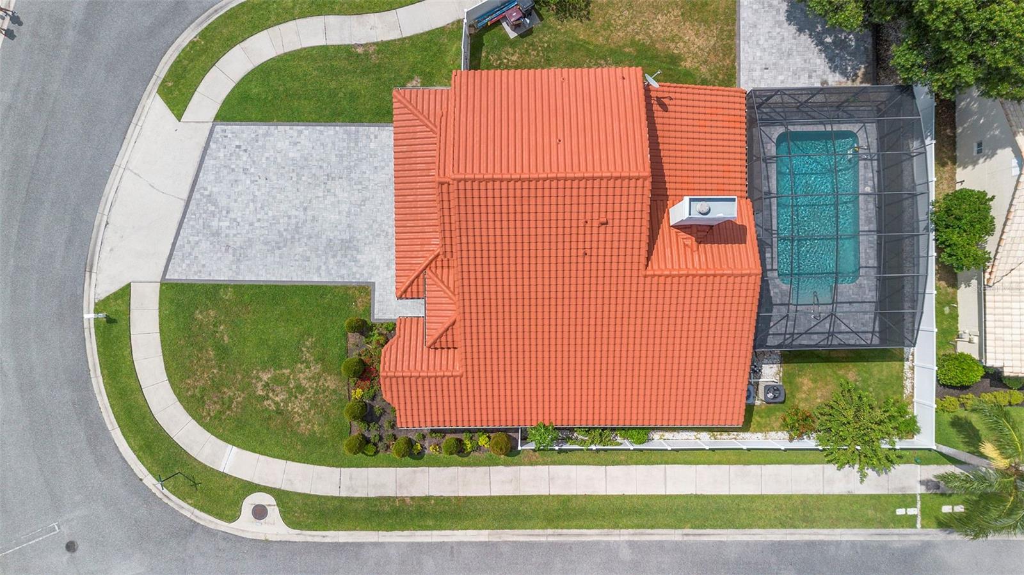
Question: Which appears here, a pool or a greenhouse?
pool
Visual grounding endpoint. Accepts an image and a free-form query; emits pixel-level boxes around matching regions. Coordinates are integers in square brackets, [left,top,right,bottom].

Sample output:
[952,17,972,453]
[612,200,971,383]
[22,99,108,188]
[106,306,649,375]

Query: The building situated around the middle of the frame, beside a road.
[379,65,765,429]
